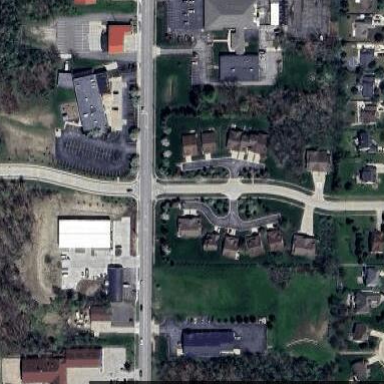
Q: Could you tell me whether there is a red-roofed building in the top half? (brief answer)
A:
Yes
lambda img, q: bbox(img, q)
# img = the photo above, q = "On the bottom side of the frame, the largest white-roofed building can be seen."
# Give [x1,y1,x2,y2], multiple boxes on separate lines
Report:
[60,219,111,252]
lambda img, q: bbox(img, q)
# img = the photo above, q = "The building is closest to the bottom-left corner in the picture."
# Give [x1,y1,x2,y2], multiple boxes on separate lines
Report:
[21,349,103,384]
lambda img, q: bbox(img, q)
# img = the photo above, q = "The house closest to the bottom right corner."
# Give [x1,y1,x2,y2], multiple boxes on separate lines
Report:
[349,358,369,380]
